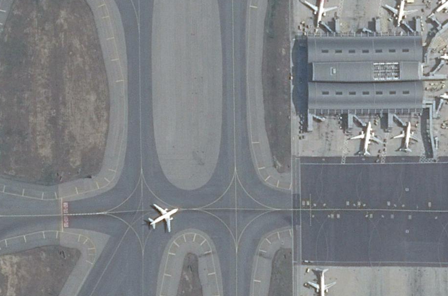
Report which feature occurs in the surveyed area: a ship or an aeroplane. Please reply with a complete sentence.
The one in the frame is an aeroplane.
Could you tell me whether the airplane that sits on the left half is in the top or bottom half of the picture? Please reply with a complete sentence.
The bottom half of the photo is where the airplane that sits on the left half is.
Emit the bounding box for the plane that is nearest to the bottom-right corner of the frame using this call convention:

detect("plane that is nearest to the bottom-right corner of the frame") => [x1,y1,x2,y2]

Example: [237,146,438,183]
[309,269,338,296]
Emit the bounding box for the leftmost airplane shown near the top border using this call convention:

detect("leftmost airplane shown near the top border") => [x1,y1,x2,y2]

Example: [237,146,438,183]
[305,0,338,31]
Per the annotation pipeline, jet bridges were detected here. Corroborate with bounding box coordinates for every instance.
[393,114,408,128]
[433,15,444,29]
[437,99,445,117]
[353,114,367,129]
[432,60,444,74]
[401,21,416,34]
[313,115,326,123]
[363,27,374,34]
[319,22,335,34]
